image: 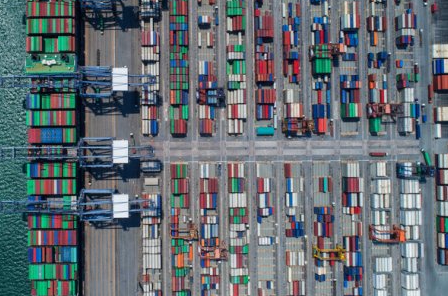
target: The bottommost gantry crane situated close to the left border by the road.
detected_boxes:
[0,183,154,223]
